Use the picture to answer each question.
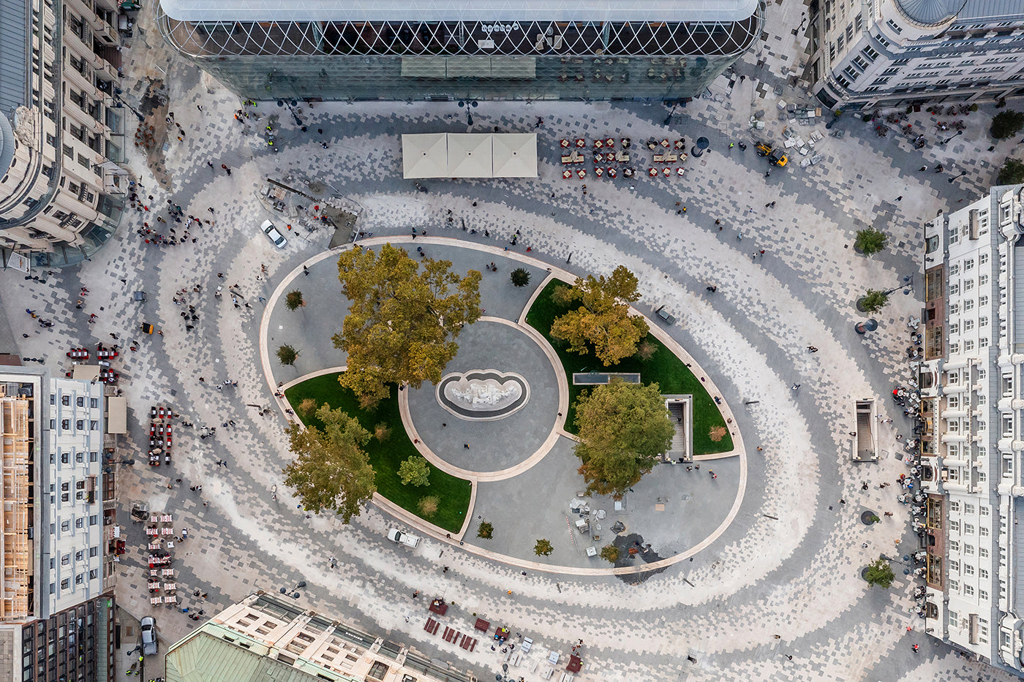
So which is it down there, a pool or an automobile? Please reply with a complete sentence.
Looking from above, you can make out an automobile.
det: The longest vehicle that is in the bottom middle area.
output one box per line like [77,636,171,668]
[386,527,423,551]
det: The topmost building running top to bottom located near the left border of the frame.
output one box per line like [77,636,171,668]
[0,0,126,269]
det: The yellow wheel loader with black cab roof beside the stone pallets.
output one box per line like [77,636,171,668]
[749,141,789,166]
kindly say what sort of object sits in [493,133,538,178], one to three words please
umbrella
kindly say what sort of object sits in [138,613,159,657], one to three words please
truck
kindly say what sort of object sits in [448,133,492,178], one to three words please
umbrella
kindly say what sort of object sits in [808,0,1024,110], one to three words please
building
